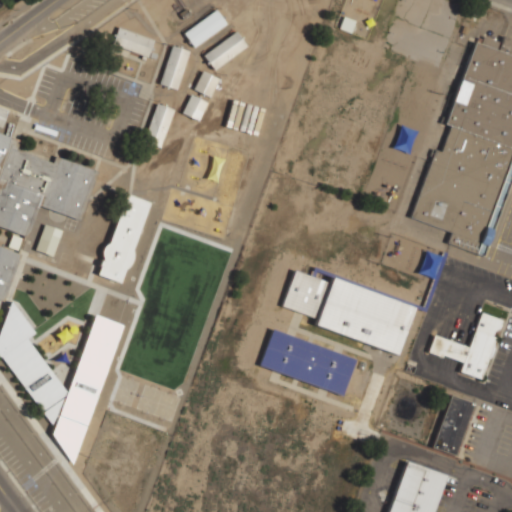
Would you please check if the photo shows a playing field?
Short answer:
Yes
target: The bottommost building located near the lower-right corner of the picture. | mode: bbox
[390,462,451,512]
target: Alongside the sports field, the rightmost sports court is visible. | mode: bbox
[137,385,180,422]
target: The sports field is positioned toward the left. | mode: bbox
[121,228,231,389]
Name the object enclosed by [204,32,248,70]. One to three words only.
building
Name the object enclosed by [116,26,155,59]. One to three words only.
building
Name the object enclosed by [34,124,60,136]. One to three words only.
vehicle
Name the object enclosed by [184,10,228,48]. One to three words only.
shed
